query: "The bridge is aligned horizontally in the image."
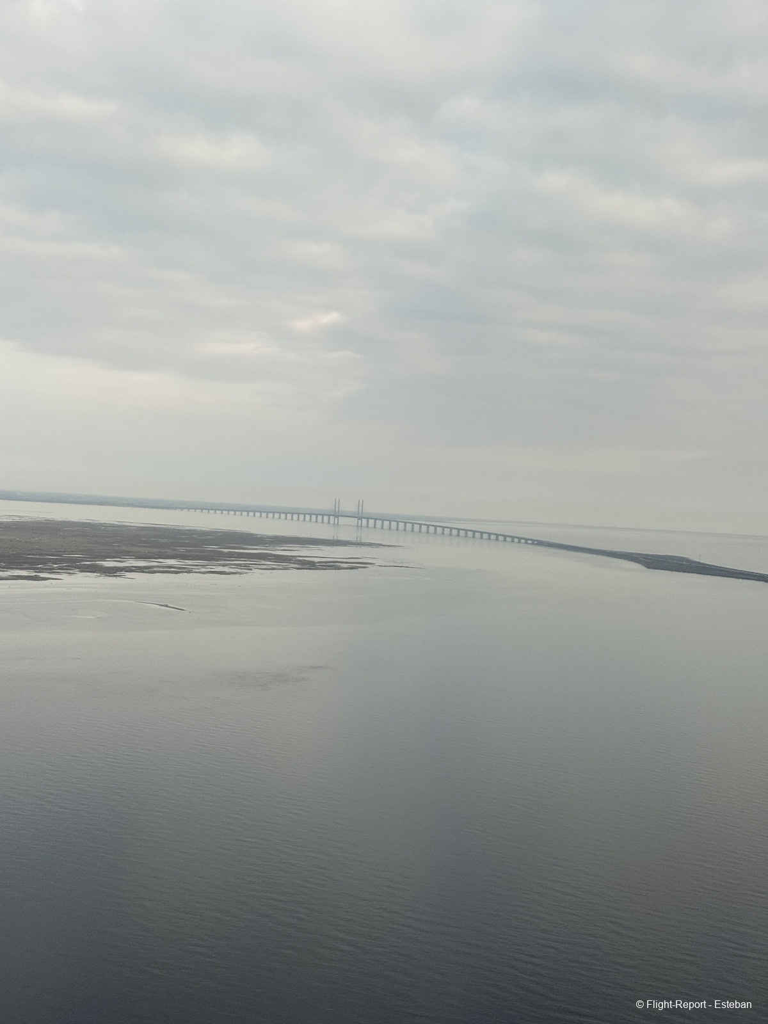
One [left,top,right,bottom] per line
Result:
[168,499,548,544]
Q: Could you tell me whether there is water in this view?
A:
Yes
